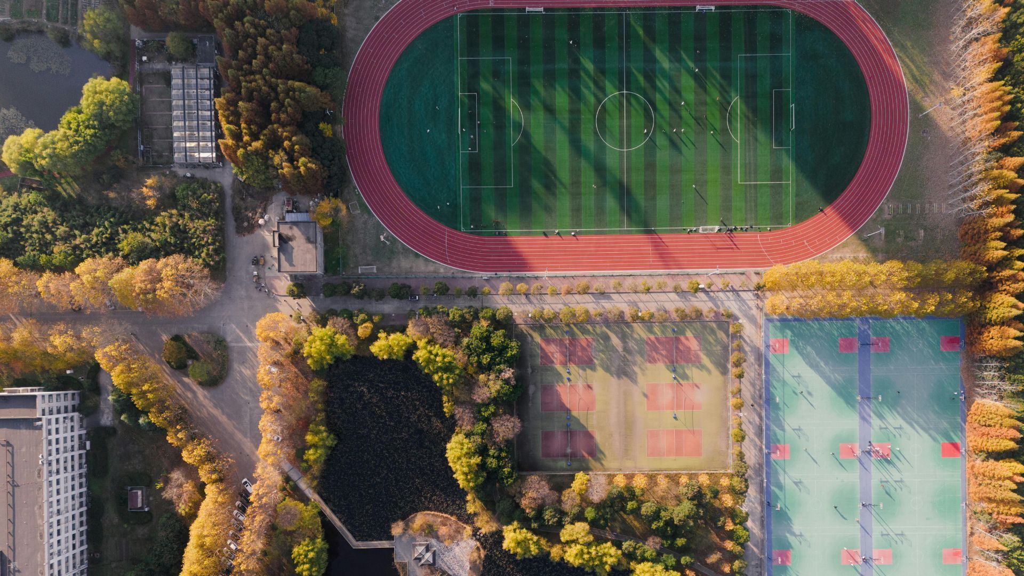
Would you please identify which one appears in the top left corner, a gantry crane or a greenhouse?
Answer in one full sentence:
What appears in the top left corner is a greenhouse.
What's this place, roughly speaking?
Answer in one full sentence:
The picture captures a sports ground.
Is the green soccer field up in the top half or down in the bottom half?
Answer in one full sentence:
It is in the top half that the green soccer field appears.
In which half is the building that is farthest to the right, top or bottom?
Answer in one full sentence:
The building that is farthest to the right sits in the bottom half of the picture.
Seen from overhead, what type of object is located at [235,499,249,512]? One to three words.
vehicle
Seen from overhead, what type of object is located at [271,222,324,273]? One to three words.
house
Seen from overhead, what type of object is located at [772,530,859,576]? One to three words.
basketball court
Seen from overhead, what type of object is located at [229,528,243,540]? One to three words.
vehicle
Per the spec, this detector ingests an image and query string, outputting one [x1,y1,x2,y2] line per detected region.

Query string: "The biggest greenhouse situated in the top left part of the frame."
[172,66,222,166]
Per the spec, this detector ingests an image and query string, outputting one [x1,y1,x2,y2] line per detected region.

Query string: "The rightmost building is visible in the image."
[412,539,437,566]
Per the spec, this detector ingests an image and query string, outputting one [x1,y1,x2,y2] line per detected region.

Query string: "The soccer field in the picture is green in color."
[379,5,871,236]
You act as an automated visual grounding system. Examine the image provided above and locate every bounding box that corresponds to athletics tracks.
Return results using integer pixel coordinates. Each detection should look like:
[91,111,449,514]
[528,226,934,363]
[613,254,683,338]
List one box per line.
[341,0,909,274]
